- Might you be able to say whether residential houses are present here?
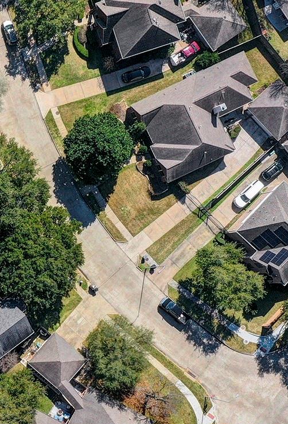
Yes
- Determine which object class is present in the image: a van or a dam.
van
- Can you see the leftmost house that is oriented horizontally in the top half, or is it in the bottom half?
top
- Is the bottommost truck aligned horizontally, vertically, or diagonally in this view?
diagonally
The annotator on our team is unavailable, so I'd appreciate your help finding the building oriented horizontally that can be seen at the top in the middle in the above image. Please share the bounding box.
[86,0,247,71]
